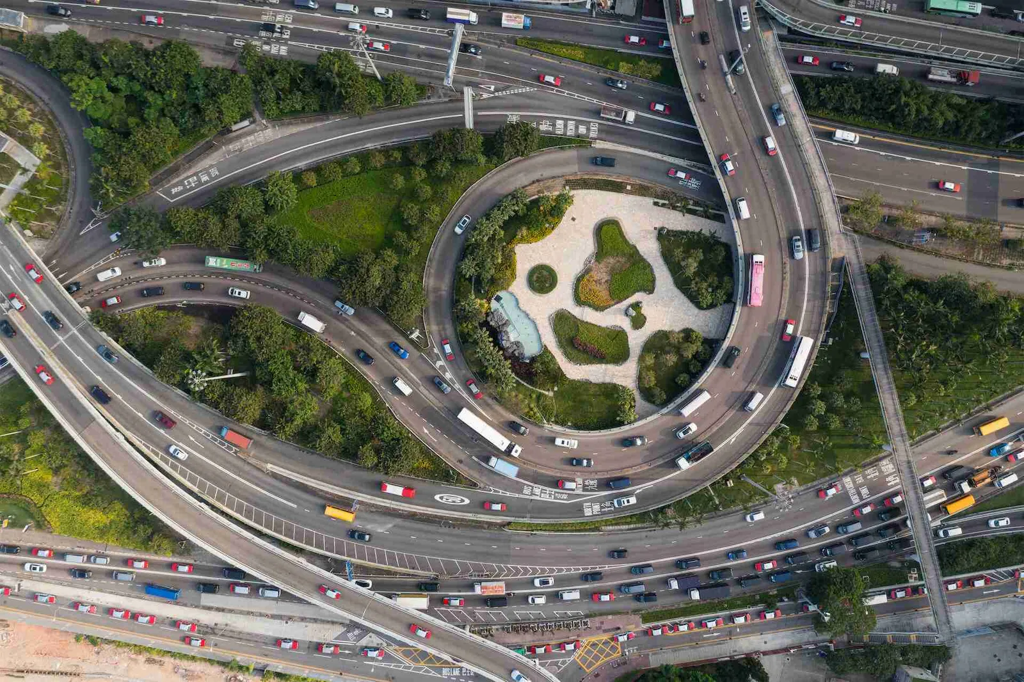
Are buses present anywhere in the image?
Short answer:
Yes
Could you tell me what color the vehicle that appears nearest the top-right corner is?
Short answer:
black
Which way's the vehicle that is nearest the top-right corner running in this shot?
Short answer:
from left to right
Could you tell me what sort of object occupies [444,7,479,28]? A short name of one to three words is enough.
truck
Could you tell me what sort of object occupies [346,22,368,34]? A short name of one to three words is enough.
vehicle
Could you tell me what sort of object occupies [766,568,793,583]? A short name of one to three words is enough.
vehicle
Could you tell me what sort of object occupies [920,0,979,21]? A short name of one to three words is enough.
bus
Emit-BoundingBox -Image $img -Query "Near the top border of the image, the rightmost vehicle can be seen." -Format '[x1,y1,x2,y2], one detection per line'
[978,5,1016,25]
